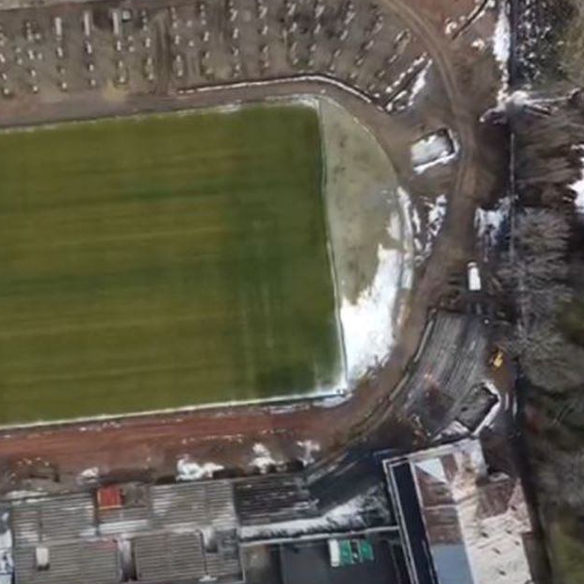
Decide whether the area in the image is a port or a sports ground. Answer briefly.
sports ground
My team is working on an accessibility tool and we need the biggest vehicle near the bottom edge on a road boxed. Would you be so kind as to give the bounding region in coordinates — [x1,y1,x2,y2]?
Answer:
[329,541,342,565]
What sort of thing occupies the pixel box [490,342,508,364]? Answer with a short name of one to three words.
work vehicle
